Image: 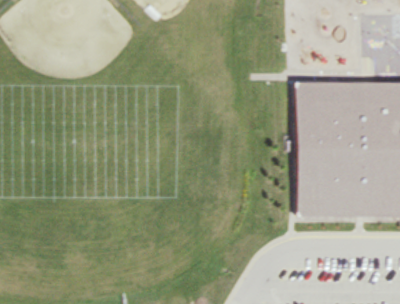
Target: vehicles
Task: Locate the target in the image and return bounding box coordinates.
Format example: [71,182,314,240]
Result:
[324,271,333,282]
[332,259,337,270]
[357,270,366,280]
[362,258,368,270]
[318,258,323,269]
[296,270,305,281]
[348,271,358,282]
[332,270,342,282]
[386,258,392,269]
[288,270,298,280]
[386,270,396,281]
[324,258,330,270]
[278,268,287,279]
[318,270,326,282]
[304,270,312,280]
[374,258,379,269]
[356,257,362,268]
[372,271,380,282]
[366,272,376,284]
[306,258,310,270]
[342,258,348,270]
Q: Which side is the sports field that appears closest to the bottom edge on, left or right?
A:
left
